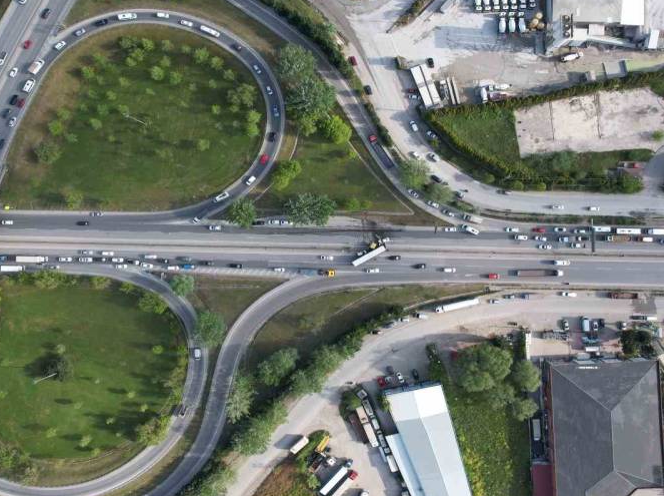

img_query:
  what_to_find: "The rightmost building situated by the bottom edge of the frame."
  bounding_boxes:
[541,355,664,496]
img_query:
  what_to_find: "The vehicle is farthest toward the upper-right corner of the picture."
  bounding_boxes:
[560,50,586,64]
